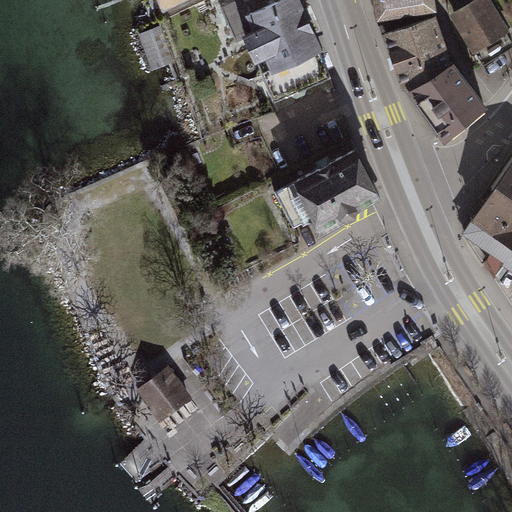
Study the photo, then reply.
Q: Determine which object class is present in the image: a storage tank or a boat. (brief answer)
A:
boat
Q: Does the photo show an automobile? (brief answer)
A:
Yes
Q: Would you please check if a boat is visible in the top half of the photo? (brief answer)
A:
No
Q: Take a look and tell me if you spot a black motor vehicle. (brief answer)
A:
Yes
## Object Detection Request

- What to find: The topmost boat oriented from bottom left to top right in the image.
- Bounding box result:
[442,426,472,452]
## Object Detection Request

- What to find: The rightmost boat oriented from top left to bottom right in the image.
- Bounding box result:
[342,414,366,449]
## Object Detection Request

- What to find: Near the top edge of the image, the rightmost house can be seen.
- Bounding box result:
[450,0,510,65]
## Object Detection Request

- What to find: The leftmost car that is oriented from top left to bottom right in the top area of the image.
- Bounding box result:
[270,148,288,169]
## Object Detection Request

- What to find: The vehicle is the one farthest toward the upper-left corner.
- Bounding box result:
[233,126,255,139]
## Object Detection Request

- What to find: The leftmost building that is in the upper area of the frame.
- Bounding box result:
[139,25,174,70]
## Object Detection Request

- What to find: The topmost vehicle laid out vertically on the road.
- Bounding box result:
[350,76,363,100]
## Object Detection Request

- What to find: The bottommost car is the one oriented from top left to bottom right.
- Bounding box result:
[332,371,350,395]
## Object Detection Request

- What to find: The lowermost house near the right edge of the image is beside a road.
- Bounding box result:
[464,160,512,270]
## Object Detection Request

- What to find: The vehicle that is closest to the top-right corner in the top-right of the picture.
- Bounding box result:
[486,54,509,74]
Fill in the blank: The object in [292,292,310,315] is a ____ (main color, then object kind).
black car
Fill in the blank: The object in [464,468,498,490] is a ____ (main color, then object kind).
blue boat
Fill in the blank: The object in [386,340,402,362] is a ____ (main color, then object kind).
gray car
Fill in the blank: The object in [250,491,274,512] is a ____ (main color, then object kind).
white boat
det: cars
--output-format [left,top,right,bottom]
[486,54,509,74]
[276,336,294,358]
[332,371,350,395]
[273,307,290,328]
[358,350,377,372]
[350,76,363,100]
[344,262,363,286]
[374,345,391,366]
[233,126,255,139]
[320,312,337,334]
[306,314,325,338]
[270,148,288,169]
[367,125,382,149]
[314,282,333,306]
[396,330,413,351]
[346,324,370,341]
[386,340,402,362]
[406,322,422,344]
[379,274,396,296]
[327,119,344,144]
[329,303,346,324]
[292,292,310,315]
[358,284,376,308]
[400,291,424,309]
[300,226,316,249]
